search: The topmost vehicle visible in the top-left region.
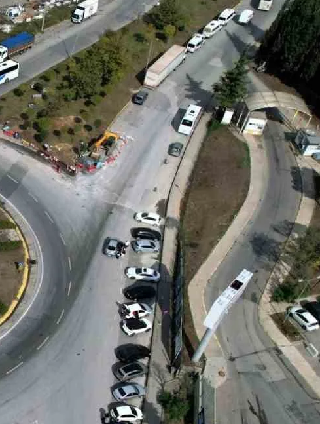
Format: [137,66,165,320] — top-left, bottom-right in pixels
[73,0,100,24]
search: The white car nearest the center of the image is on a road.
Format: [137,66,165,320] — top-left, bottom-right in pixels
[135,212,163,227]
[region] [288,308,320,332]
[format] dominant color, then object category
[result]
white car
